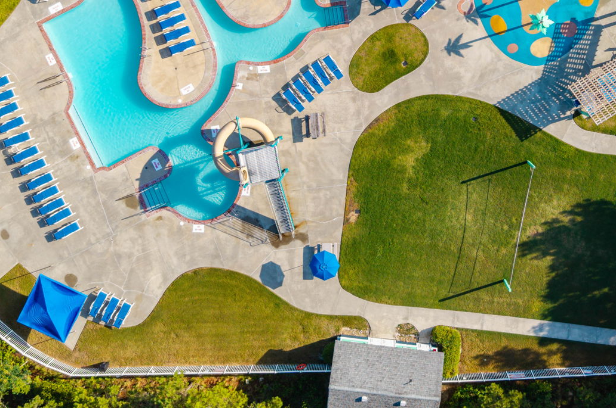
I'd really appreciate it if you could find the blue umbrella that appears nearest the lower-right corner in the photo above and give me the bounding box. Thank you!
[308,246,343,280]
